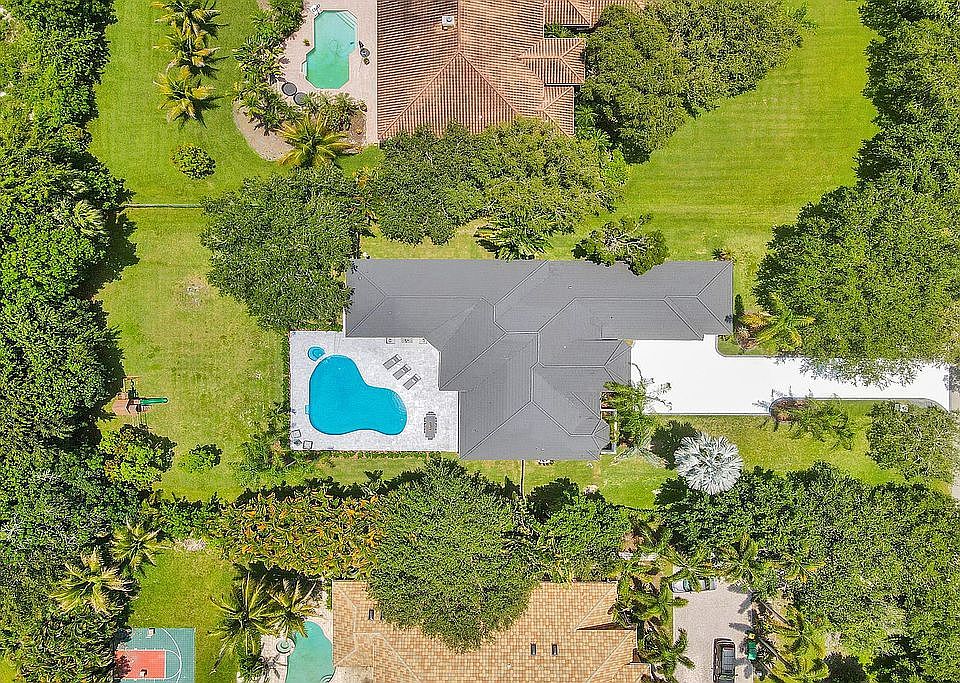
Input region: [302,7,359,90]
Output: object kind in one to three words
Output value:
swimming pool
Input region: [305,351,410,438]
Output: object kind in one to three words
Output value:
swimming pool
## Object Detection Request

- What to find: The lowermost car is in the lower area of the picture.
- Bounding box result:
[709,635,735,683]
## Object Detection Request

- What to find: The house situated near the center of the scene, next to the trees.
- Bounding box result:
[346,259,733,461]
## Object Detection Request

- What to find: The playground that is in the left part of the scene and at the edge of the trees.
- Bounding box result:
[111,375,167,433]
